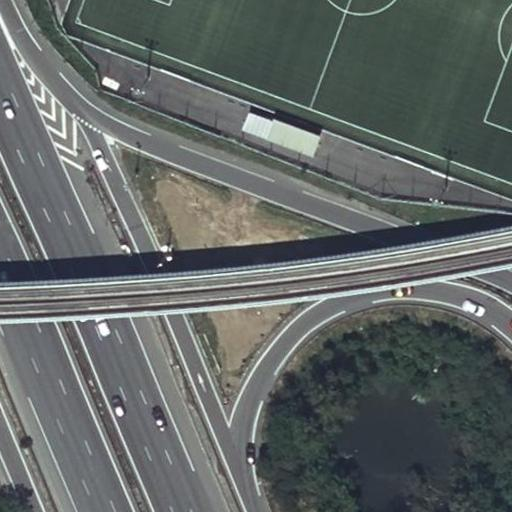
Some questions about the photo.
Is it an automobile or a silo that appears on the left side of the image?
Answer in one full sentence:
It is an automobile that can be seen on the left side of the image.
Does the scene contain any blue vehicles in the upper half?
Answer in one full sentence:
No, looking in the upper half, there is no blue vehicle.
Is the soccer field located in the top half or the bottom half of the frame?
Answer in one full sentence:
You can find the soccer field in the top half.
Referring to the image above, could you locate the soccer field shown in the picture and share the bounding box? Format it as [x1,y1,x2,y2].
[64,0,512,199]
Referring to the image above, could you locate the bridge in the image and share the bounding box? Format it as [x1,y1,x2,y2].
[0,226,512,323]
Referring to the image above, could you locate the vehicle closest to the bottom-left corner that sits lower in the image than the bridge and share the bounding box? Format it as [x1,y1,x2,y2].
[112,396,125,417]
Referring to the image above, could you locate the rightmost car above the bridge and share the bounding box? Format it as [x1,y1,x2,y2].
[92,148,110,172]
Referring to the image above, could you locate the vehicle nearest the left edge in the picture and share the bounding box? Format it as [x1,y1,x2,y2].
[2,99,16,120]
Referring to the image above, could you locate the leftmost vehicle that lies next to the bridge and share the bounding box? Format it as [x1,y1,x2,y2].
[96,319,111,338]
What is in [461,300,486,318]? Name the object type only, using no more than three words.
car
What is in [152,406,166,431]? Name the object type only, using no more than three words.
car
